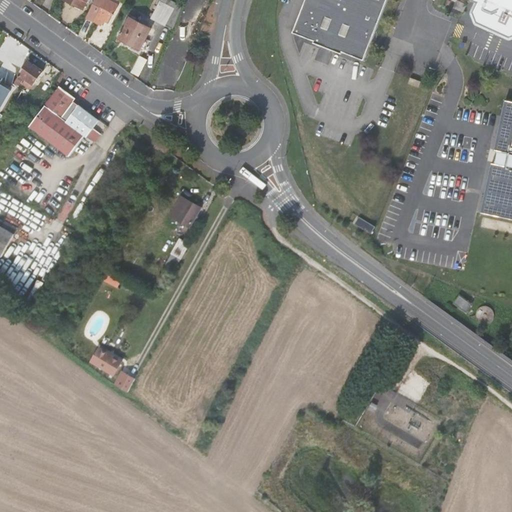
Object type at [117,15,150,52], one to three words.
house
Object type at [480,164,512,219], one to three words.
building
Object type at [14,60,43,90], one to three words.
house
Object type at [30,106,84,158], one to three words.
building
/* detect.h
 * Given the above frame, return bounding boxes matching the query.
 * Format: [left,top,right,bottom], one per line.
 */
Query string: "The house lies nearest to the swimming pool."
[90,348,122,376]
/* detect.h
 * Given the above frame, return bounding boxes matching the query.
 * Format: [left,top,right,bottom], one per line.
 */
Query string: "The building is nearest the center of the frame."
[169,196,202,234]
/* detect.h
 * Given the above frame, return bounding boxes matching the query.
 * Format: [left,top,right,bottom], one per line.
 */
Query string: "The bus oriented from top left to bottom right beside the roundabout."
[238,167,265,190]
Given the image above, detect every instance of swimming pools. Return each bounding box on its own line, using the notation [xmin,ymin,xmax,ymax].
[85,310,110,342]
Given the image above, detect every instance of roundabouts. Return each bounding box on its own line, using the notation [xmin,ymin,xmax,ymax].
[185,74,283,174]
